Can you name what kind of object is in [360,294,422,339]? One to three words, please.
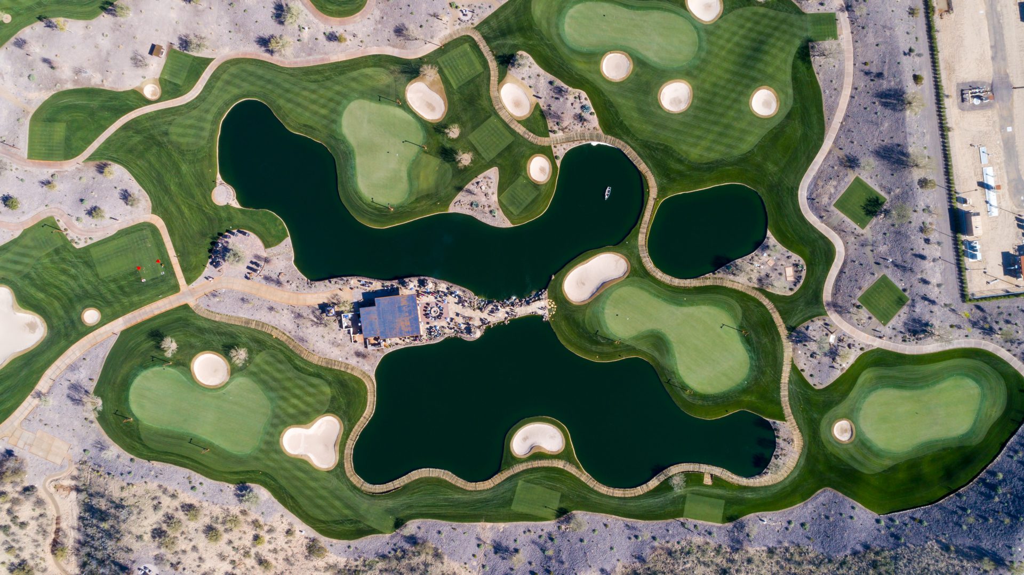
building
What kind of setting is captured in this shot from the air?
golf course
